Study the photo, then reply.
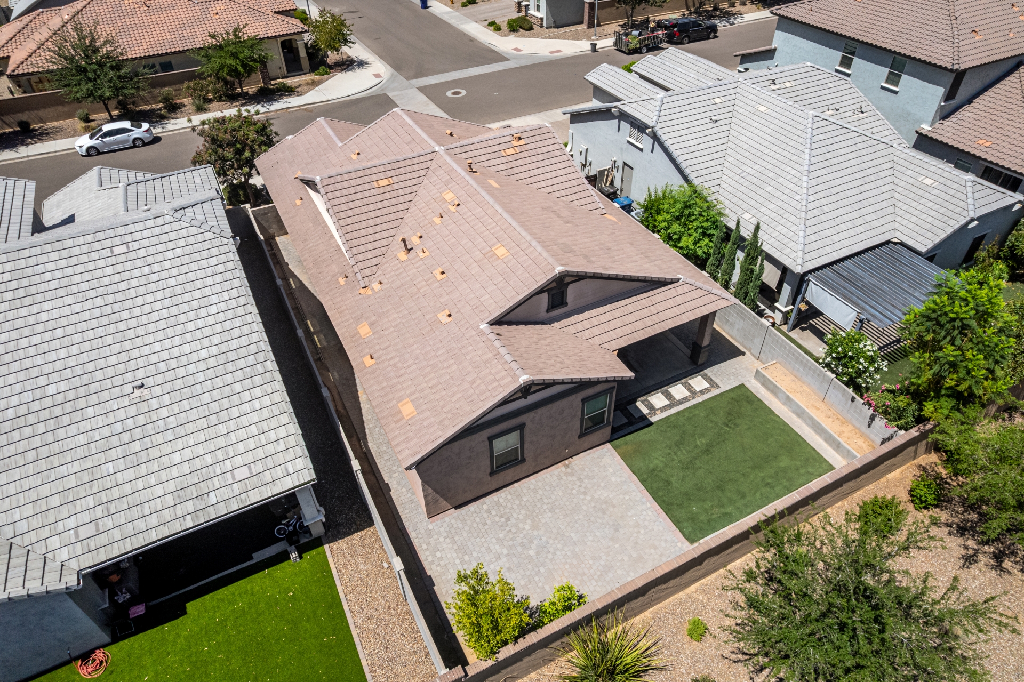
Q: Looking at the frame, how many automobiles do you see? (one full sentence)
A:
I count 2 automobiles.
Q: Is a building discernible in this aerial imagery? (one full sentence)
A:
Yes, I can see a building in this picture.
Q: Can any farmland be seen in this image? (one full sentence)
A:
No, no farmland is visible.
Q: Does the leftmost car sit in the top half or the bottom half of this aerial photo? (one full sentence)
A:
The leftmost car sits in the top half of the picture.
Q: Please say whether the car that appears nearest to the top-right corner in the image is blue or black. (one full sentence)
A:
The car that appears nearest to the top-right corner looks black in the image.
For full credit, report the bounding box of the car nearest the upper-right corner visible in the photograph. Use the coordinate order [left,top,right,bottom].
[658,13,720,44]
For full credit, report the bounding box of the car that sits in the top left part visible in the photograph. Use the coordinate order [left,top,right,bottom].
[74,120,150,156]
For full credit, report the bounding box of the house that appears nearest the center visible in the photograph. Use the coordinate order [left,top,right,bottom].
[254,105,745,518]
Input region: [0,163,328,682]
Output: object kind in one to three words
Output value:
house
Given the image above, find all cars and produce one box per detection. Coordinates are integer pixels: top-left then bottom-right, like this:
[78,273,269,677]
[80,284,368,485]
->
[74,120,150,156]
[658,13,720,44]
